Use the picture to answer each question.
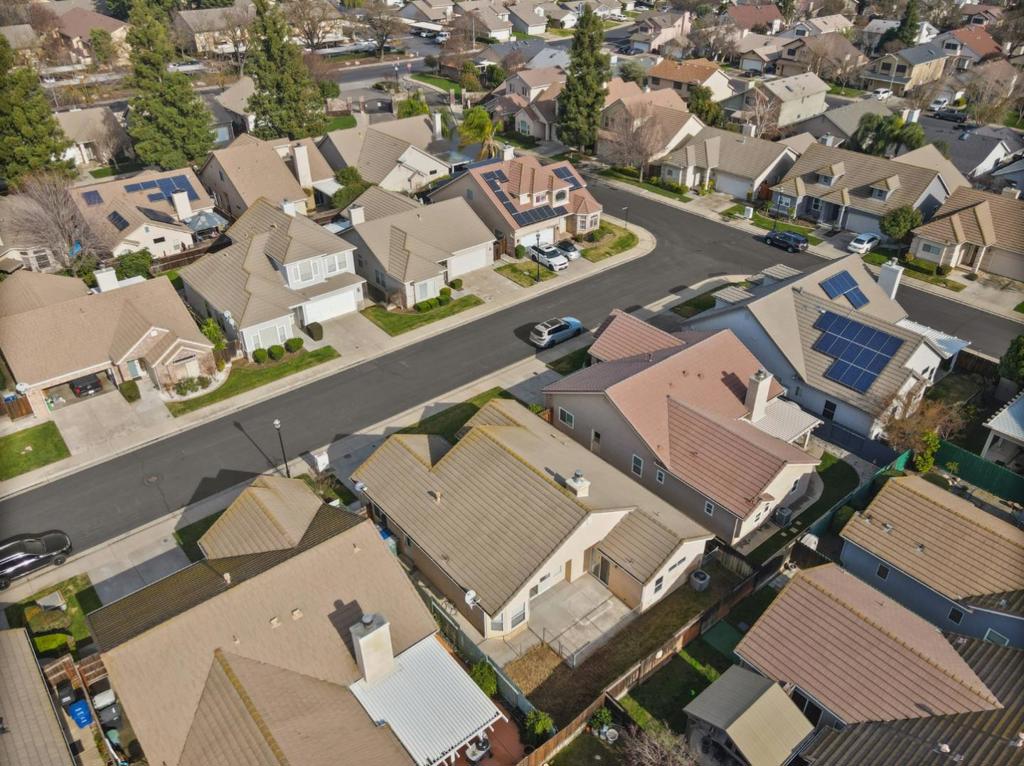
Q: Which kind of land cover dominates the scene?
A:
buildings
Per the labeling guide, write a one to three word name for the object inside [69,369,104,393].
car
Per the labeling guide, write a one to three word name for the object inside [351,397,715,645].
house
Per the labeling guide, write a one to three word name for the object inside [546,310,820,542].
house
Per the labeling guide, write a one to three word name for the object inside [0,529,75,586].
car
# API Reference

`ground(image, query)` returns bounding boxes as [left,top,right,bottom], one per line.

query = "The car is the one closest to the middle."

[530,317,584,348]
